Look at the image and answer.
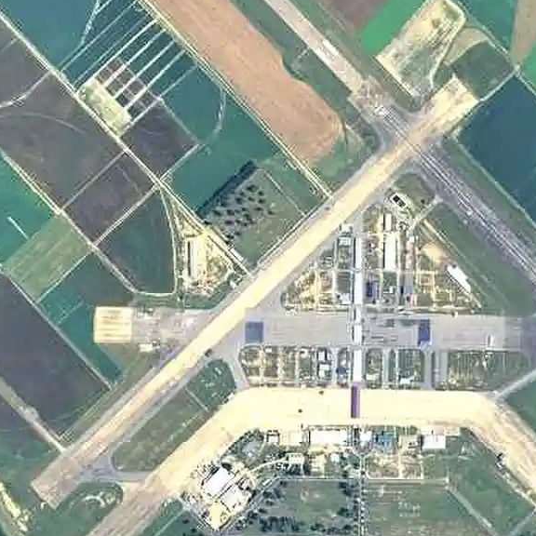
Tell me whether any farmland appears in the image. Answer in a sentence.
Yes, there's farmland in this view.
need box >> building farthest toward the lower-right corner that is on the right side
[423,435,445,449]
